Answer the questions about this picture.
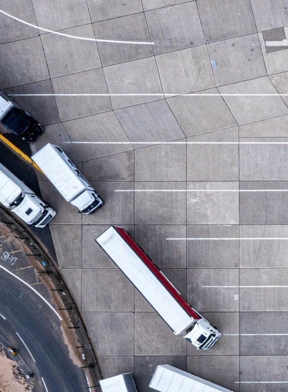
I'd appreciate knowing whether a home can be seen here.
No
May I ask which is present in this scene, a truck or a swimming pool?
truck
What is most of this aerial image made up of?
paved ground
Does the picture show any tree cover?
No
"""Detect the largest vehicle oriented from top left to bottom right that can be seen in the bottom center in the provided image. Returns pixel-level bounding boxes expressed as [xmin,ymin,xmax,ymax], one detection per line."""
[96,227,222,351]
